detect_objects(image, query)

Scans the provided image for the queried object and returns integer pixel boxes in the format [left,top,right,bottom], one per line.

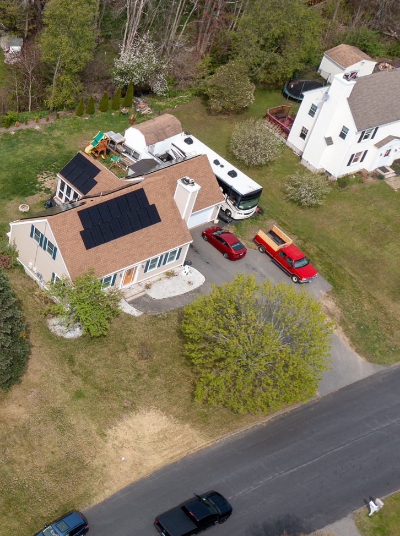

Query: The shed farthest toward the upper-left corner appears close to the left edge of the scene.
[0,36,24,55]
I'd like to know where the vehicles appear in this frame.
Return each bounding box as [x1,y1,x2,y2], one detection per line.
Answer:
[201,225,248,260]
[171,138,268,222]
[33,507,93,536]
[256,230,320,284]
[155,491,239,536]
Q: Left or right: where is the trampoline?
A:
right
